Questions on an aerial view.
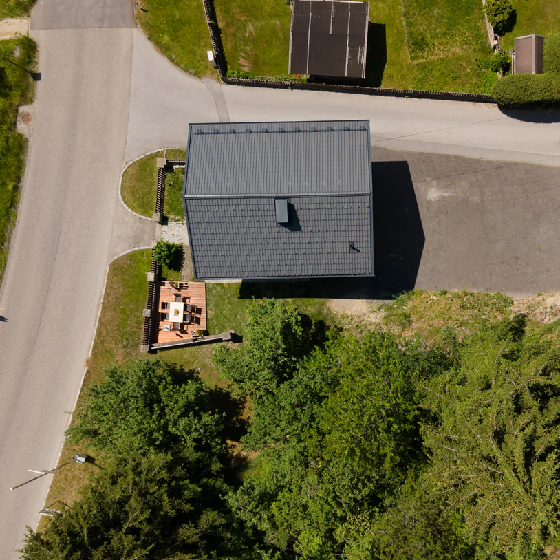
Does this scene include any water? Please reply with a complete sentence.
No, the picture contains no water.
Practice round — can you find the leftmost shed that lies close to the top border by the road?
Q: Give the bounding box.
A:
[288,0,368,86]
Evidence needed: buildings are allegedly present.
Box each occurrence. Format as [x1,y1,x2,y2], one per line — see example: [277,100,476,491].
[508,35,544,77]
[288,0,368,86]
[180,117,374,282]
